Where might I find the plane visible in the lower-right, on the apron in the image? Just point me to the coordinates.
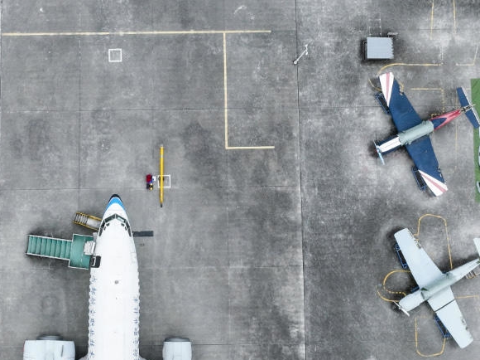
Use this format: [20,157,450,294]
[394,229,480,348]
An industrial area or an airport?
airport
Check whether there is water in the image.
No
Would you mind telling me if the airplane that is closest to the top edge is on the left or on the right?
right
